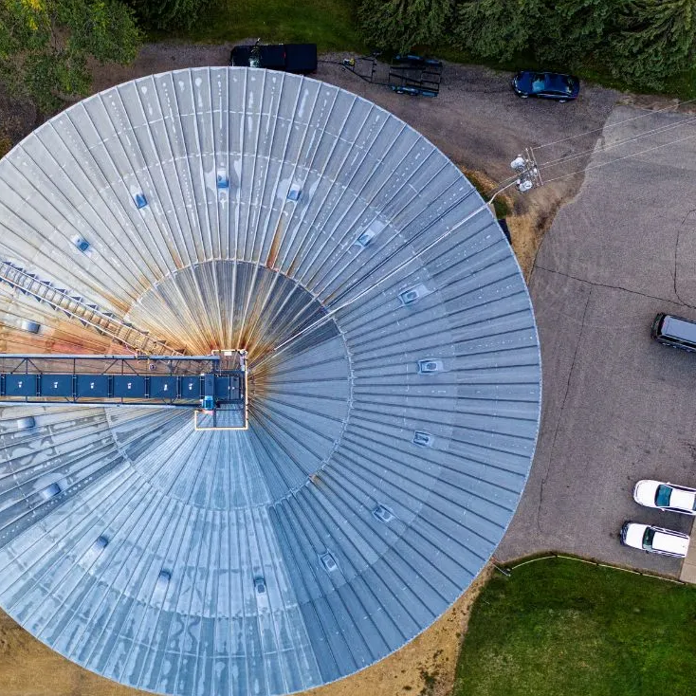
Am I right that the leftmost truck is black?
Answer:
Yes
